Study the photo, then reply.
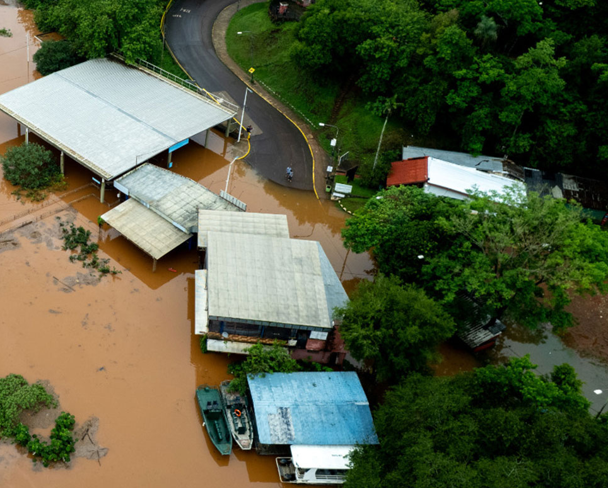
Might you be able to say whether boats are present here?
Yes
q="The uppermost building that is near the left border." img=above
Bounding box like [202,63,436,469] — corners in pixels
[0,58,237,204]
